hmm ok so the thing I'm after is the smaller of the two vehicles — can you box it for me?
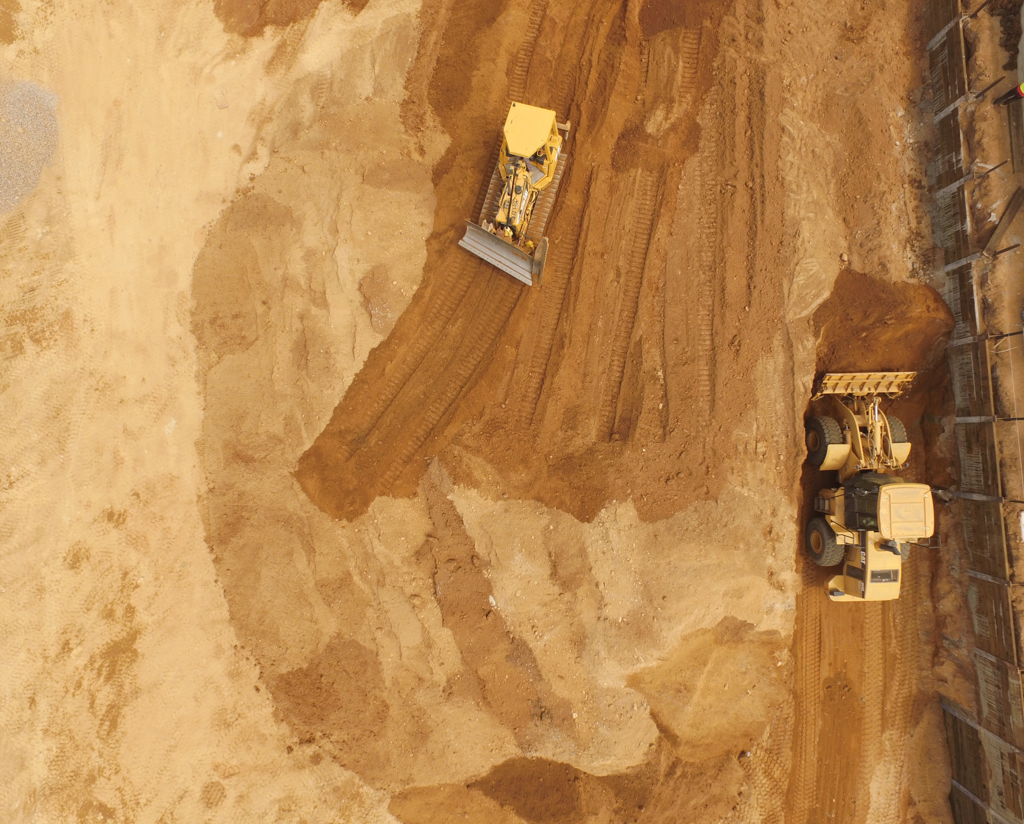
[462,101,572,286]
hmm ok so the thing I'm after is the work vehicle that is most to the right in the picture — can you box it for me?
[800,371,937,601]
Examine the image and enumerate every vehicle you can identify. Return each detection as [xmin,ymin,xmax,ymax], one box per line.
[800,371,937,601]
[462,101,572,286]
